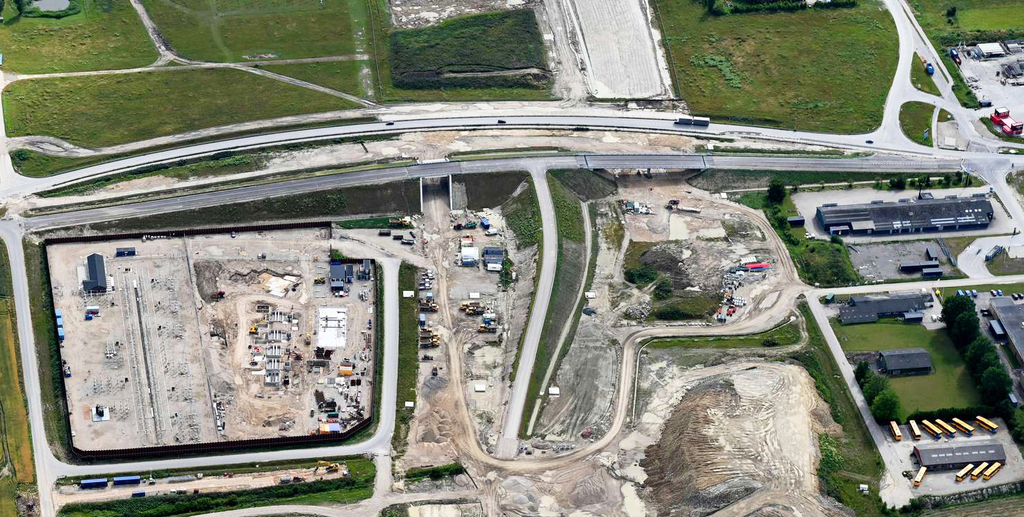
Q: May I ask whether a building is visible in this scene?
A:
Yes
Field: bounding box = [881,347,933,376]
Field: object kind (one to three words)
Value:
barn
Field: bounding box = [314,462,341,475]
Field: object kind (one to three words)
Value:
vehicle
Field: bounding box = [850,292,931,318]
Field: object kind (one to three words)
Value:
building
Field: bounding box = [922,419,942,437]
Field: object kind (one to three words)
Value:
vehicle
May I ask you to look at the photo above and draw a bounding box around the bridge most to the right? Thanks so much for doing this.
[574,153,720,179]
